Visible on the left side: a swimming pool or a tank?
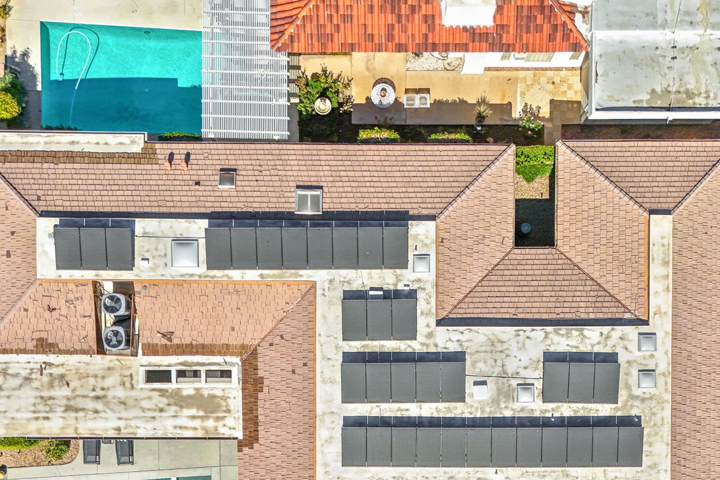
swimming pool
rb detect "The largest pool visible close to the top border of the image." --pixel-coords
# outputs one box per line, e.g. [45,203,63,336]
[42,23,255,131]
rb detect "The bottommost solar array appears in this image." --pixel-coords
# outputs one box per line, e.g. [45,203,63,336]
[342,427,644,467]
